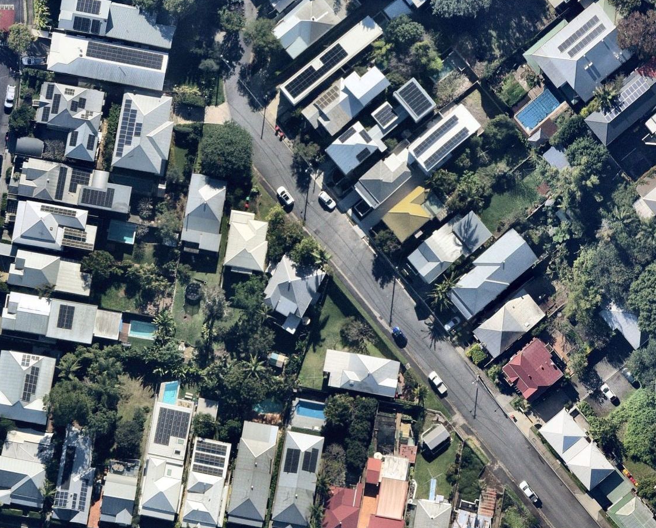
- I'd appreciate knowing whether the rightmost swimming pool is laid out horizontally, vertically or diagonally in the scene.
diagonally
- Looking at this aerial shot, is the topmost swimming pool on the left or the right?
right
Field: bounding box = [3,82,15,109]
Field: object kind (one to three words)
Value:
vehicle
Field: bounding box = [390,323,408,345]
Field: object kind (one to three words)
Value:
car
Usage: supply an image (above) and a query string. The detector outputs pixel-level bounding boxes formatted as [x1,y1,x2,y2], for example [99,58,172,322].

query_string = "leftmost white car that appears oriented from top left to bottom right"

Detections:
[274,184,296,208]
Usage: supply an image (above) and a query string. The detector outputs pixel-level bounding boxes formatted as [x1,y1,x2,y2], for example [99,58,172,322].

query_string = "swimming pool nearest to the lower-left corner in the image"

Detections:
[162,380,179,405]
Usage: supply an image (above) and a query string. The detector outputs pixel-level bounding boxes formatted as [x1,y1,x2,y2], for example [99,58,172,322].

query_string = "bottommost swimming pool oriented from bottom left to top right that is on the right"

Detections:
[513,86,562,133]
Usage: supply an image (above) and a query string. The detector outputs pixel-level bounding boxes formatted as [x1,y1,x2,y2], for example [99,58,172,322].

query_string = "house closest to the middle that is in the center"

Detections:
[263,254,327,333]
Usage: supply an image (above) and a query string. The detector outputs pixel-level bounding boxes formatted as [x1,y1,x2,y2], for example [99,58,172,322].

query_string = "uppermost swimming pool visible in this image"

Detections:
[444,50,468,77]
